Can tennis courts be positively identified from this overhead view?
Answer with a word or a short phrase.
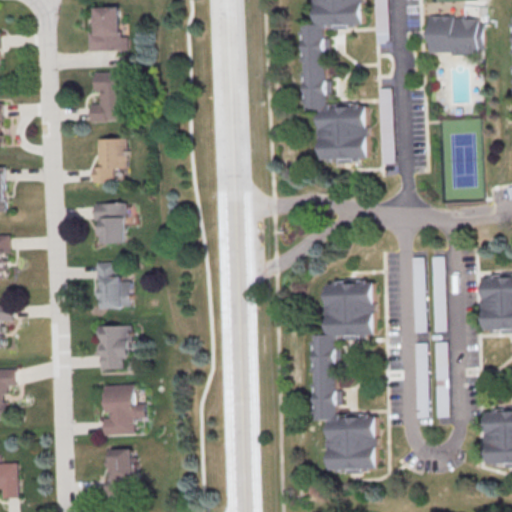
Yes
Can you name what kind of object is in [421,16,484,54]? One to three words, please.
building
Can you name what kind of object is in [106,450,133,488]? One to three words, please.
house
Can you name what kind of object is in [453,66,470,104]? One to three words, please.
swimming pool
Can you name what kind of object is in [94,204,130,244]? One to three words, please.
house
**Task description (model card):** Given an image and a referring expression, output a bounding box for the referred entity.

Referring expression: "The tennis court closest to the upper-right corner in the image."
[443,118,482,203]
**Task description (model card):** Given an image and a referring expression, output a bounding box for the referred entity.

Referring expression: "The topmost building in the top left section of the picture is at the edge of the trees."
[87,8,132,50]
